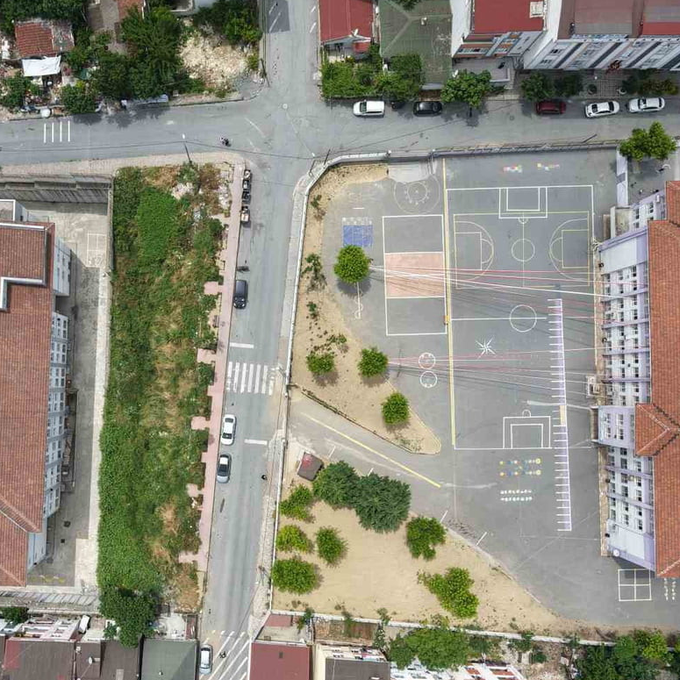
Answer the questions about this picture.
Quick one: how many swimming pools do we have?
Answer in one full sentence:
The picture shows no swimming pools.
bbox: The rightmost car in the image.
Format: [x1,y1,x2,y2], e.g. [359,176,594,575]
[628,97,660,113]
